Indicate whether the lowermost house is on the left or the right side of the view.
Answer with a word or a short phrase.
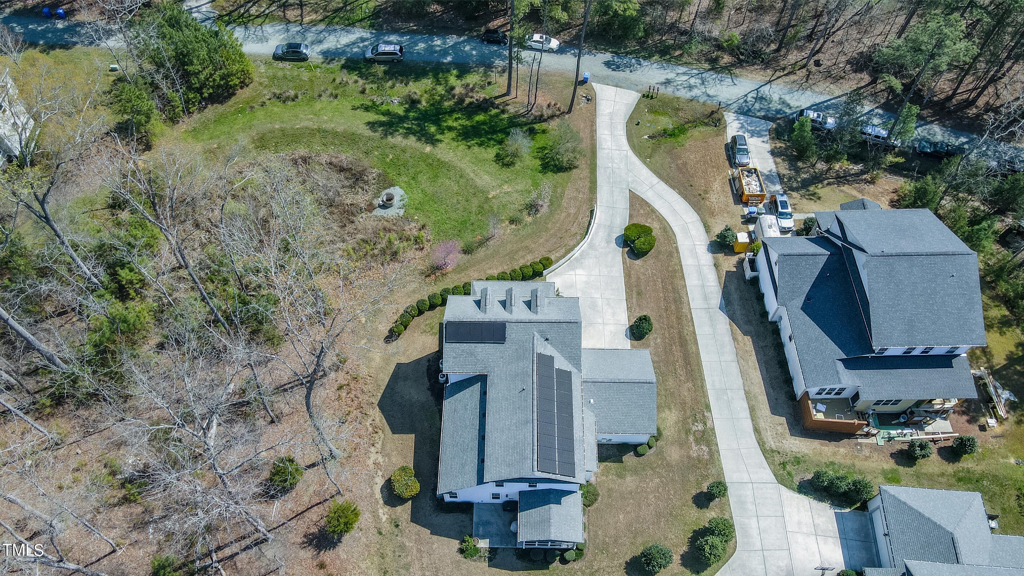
right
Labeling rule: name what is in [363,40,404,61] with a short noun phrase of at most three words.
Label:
car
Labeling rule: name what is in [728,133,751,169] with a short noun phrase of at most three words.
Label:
car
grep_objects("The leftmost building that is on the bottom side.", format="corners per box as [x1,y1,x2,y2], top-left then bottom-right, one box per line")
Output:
[436,278,657,549]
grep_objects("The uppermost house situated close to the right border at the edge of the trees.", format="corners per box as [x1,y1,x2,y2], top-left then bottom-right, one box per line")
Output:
[754,199,987,432]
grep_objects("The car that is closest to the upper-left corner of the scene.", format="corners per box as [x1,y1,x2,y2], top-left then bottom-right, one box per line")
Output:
[272,42,311,61]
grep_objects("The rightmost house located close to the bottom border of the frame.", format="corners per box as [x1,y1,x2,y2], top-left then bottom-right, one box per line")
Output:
[852,485,1024,576]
